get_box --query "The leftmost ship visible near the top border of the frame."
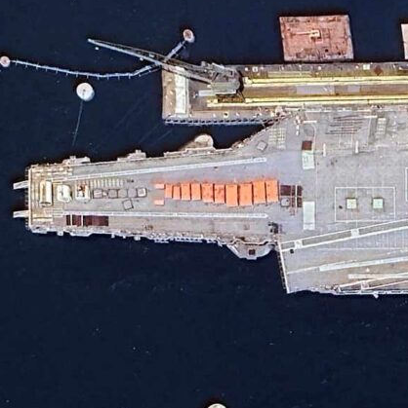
[280,13,354,63]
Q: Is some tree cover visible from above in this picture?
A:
No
